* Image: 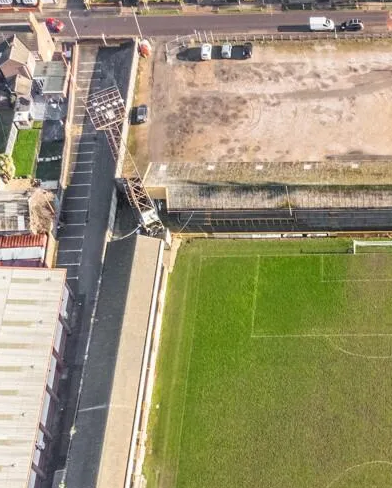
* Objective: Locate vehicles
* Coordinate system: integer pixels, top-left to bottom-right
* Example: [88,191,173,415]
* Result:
[136,108,148,124]
[47,19,65,34]
[241,44,253,61]
[222,46,232,61]
[200,45,212,63]
[310,18,334,31]
[343,20,363,31]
